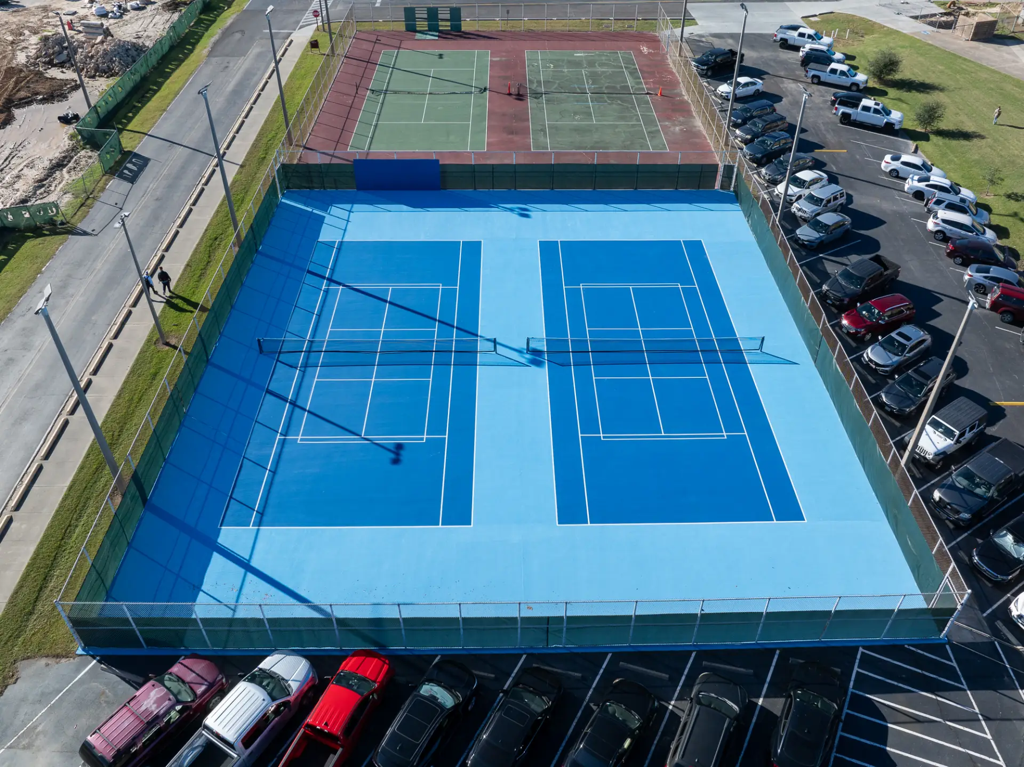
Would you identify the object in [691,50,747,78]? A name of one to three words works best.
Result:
truck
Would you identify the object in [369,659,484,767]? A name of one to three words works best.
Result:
car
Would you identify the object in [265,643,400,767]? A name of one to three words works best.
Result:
truck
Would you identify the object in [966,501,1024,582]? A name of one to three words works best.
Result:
car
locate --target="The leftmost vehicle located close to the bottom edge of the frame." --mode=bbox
[82,649,235,767]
